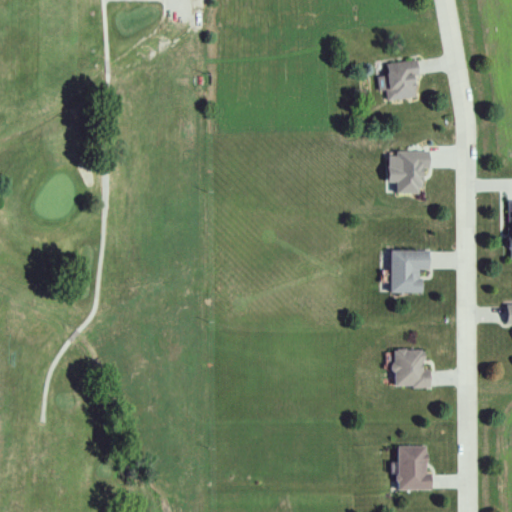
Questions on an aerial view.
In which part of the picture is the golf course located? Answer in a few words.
left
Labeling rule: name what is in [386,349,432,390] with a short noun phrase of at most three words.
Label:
house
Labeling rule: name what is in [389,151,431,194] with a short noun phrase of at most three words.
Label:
house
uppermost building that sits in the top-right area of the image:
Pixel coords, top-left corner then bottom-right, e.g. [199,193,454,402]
[378,62,420,100]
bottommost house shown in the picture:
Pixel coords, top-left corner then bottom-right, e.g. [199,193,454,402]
[391,446,432,490]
